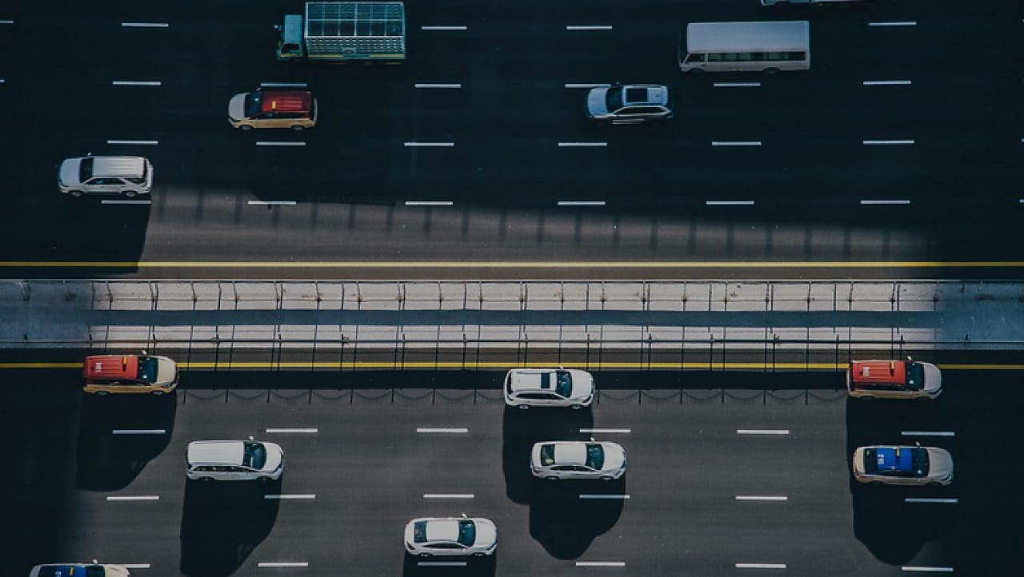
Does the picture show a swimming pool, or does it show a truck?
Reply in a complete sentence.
There is a truck in the scene.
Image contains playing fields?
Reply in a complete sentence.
No, the picture doesn't show any playing field.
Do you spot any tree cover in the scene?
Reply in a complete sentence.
No, the picture contains no tree cover.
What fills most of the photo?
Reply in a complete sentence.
For the most part, this view shows paved ground.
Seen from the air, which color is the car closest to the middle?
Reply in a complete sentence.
The car closest to the middle is white.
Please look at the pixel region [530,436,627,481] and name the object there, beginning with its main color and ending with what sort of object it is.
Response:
white car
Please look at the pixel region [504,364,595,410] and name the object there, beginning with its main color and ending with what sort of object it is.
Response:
white car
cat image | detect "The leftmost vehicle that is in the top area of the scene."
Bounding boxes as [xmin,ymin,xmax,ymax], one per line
[59,152,153,198]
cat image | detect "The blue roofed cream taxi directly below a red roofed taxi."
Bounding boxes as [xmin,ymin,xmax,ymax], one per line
[852,441,952,487]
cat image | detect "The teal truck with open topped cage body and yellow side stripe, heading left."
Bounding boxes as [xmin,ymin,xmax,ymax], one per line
[274,3,407,65]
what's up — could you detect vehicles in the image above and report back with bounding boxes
[32,559,130,577]
[846,354,941,400]
[504,364,595,410]
[274,3,407,65]
[586,80,673,124]
[530,436,627,481]
[679,21,811,76]
[187,437,285,483]
[852,441,952,487]
[59,152,153,198]
[403,513,498,559]
[84,350,179,396]
[228,86,319,130]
